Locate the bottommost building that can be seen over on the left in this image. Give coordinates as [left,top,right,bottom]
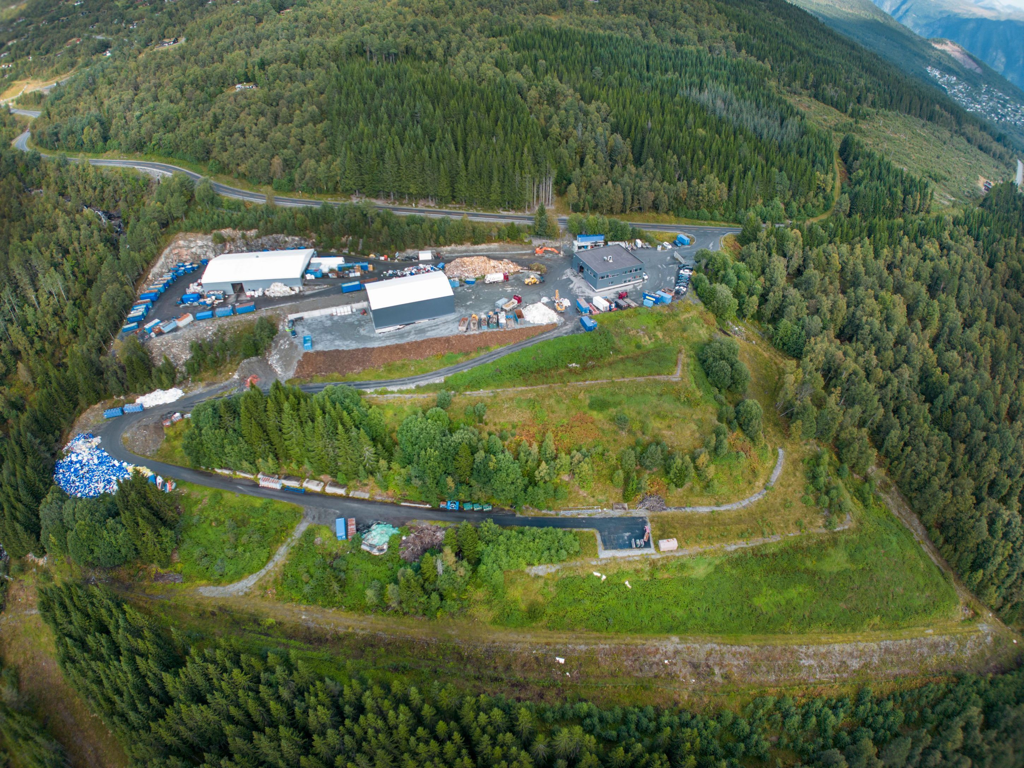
[361,273,455,332]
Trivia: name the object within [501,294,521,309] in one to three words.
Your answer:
vehicle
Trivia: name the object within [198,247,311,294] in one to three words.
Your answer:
building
